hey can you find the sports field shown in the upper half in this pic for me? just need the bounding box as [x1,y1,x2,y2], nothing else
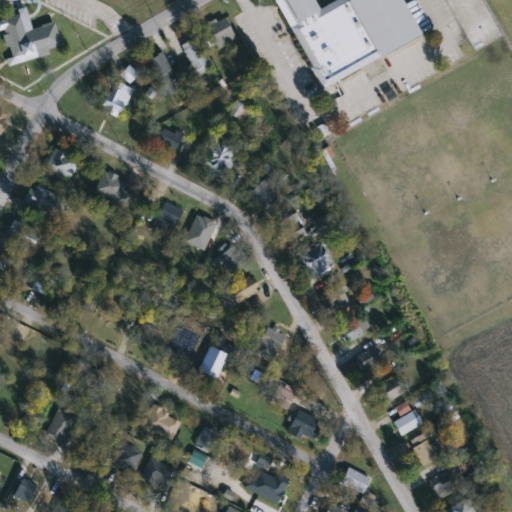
[335,38,512,336]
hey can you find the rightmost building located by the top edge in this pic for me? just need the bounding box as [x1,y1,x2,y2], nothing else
[277,0,422,88]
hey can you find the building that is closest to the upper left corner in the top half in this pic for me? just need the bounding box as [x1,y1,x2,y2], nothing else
[0,6,61,64]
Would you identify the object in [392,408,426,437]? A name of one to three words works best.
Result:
house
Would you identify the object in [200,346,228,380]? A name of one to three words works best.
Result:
barn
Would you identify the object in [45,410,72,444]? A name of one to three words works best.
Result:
house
